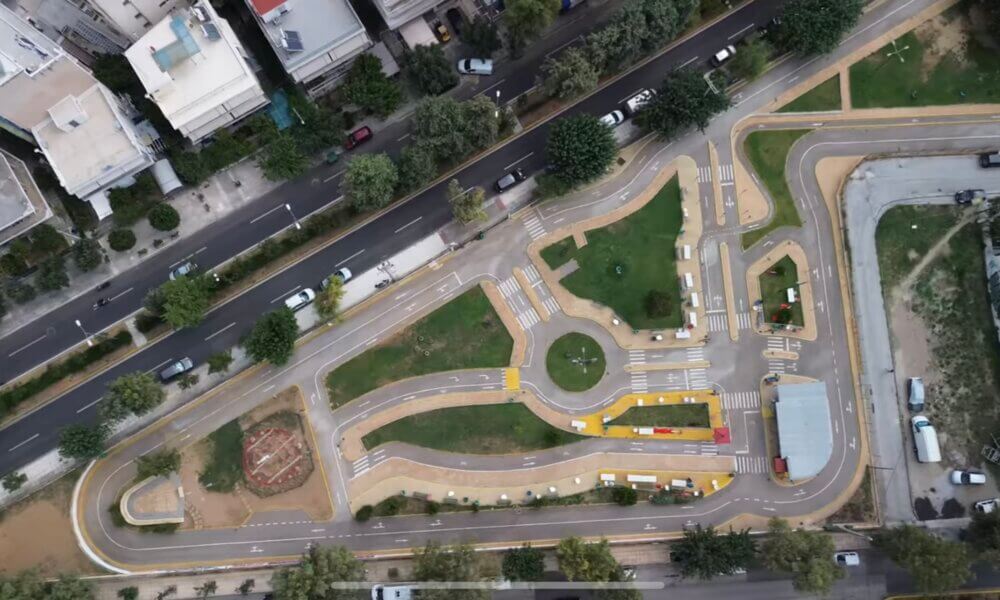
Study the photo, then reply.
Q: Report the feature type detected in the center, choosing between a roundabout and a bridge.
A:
roundabout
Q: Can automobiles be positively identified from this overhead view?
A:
Yes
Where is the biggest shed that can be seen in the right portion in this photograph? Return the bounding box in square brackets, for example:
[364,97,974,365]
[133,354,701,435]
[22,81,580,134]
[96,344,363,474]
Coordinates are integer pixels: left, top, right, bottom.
[770,381,832,480]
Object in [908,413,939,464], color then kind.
white van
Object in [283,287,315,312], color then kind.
white car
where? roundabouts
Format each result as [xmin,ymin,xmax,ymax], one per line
[539,324,613,398]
